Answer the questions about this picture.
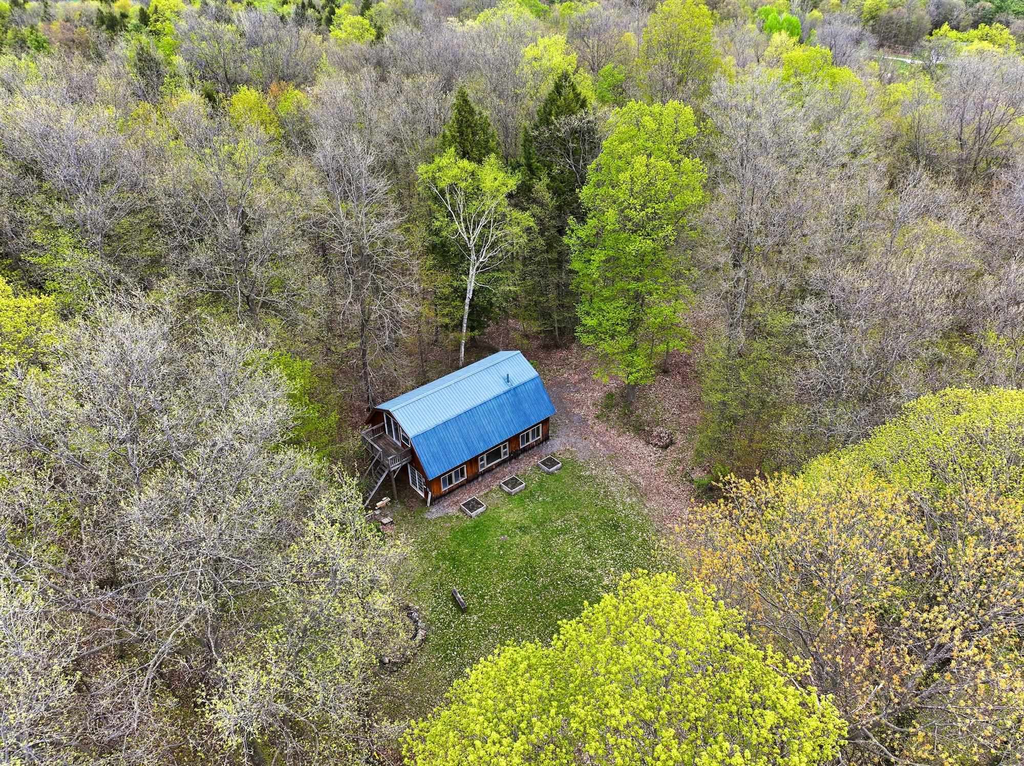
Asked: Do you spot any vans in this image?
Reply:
No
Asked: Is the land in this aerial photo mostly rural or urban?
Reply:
rural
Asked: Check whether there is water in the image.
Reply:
No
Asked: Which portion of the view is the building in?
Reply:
center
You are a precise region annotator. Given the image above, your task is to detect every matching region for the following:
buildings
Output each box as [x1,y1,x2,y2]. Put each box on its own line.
[365,351,556,506]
